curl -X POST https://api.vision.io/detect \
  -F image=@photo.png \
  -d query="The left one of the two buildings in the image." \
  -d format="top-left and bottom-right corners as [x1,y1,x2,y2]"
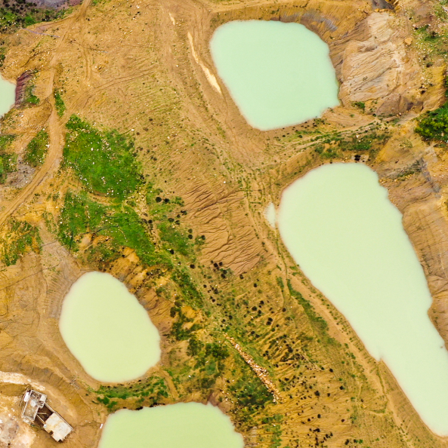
[20,389,47,422]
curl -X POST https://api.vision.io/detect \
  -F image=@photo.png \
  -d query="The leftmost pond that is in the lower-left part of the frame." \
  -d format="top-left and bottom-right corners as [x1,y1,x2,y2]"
[57,271,160,382]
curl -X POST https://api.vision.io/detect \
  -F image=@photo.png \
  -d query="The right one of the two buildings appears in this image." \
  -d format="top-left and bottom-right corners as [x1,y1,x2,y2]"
[38,402,73,441]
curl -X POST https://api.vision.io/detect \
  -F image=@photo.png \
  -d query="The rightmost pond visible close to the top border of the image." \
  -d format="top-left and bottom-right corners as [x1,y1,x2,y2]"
[209,19,341,131]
